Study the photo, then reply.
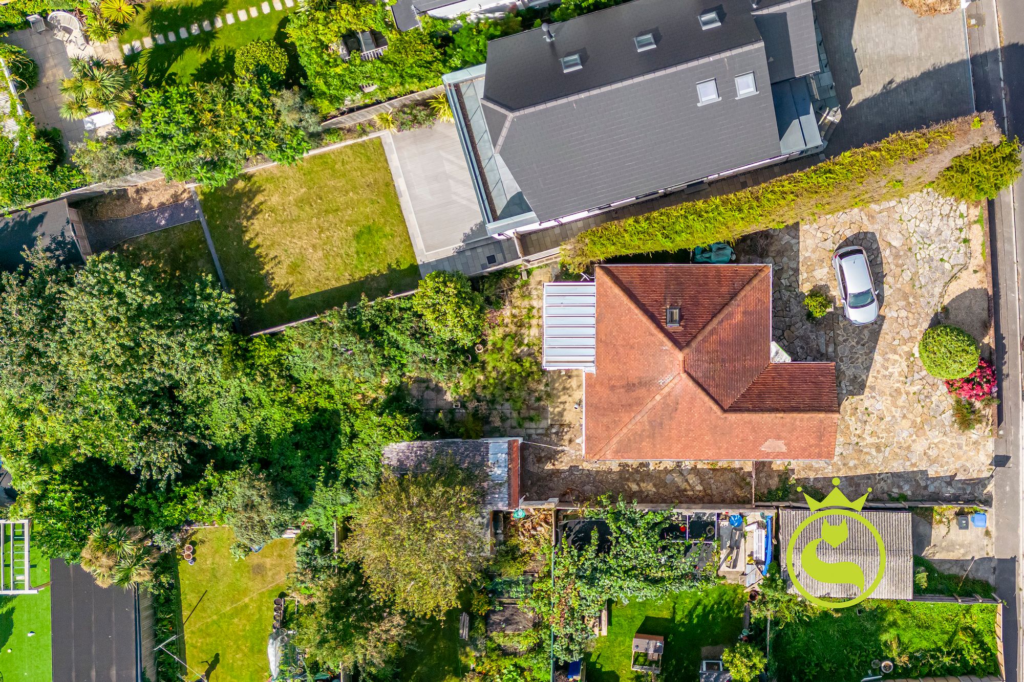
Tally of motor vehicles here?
1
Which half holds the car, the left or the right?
right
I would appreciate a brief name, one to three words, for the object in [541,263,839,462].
house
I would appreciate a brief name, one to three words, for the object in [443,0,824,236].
house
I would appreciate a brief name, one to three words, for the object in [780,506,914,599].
building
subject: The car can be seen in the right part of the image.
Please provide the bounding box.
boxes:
[834,245,881,327]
